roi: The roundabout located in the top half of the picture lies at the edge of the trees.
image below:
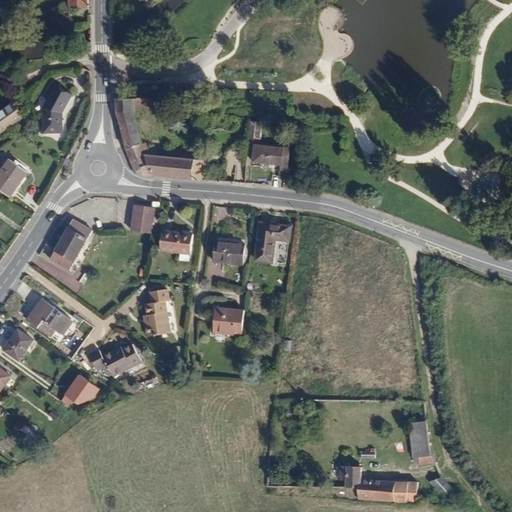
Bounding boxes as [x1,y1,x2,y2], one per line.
[59,104,151,200]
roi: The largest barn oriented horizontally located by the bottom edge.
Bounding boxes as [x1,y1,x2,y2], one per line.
[356,478,420,504]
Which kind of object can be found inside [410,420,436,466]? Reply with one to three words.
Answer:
barn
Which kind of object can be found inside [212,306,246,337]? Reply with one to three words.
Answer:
house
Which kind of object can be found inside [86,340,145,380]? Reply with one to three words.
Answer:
house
